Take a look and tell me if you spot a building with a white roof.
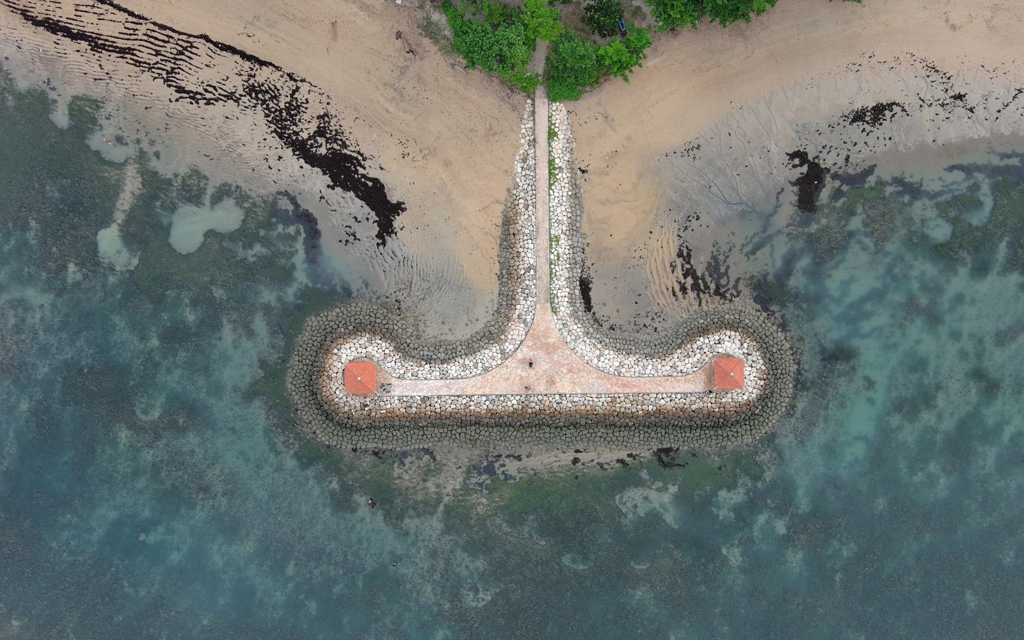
No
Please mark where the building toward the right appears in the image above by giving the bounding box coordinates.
[707,356,746,392]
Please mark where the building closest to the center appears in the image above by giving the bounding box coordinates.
[343,361,381,396]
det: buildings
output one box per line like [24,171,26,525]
[707,356,746,392]
[343,361,381,396]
